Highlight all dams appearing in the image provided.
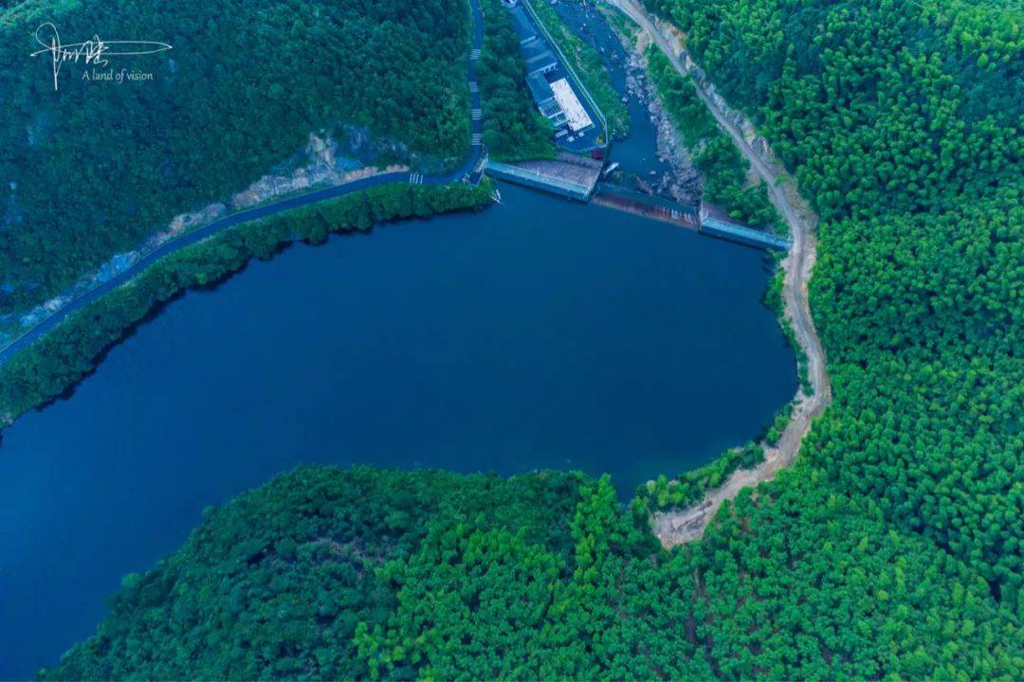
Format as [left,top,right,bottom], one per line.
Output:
[487,152,796,249]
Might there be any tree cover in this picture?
Yes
